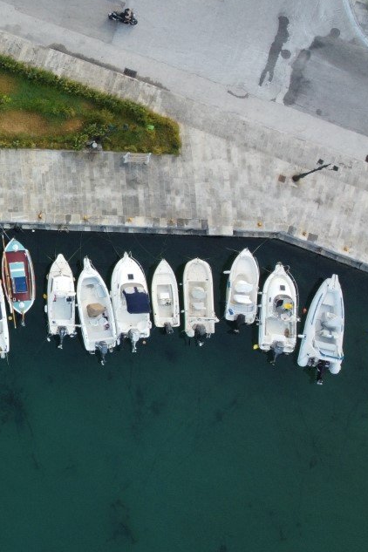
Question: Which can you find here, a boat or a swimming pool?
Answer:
boat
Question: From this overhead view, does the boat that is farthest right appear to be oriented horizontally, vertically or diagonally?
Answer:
vertically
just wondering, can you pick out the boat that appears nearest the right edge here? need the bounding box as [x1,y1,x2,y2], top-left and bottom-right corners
[297,277,346,378]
